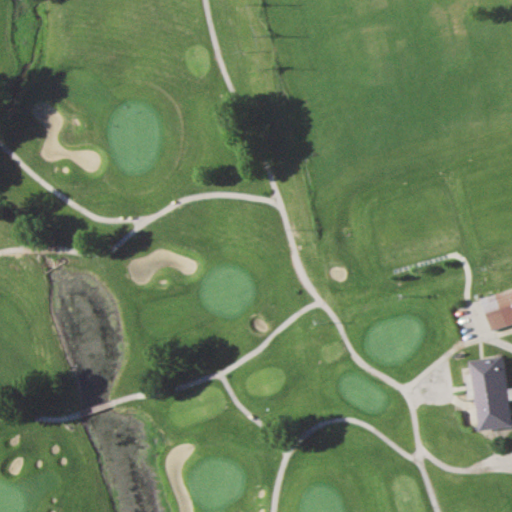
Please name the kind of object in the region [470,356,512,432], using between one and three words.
building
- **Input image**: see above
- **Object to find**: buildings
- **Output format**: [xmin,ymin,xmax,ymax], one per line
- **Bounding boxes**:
[470,356,512,432]
[486,290,512,331]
